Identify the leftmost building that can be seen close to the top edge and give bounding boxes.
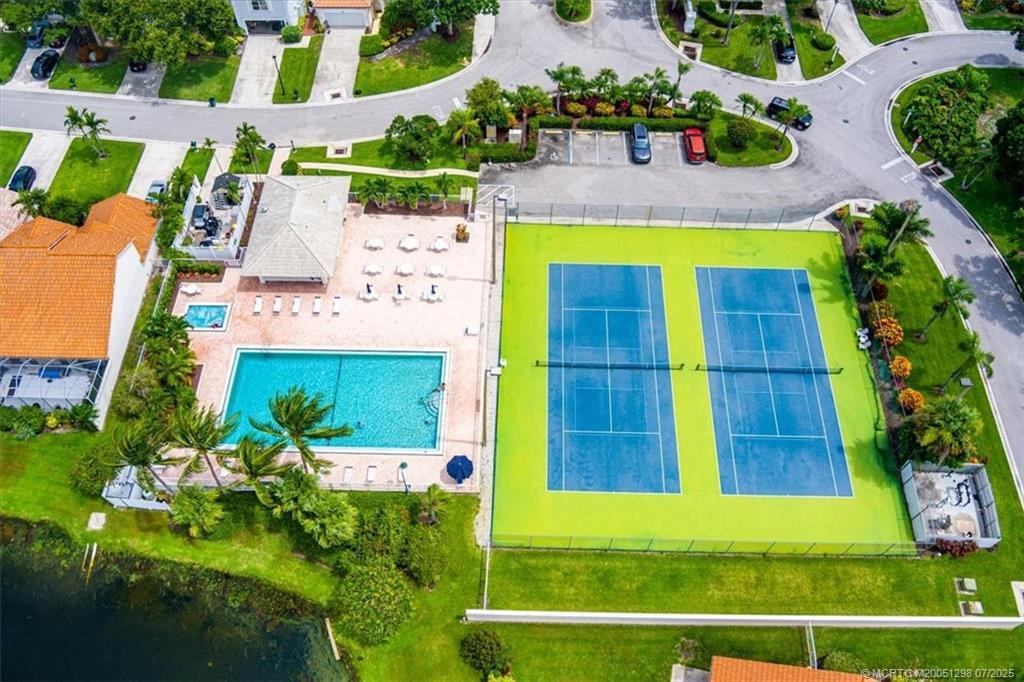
[233,0,316,35]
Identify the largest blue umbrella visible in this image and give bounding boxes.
[447,455,474,481]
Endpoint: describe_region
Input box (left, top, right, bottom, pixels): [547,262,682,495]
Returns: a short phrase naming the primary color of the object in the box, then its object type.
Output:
blue tennis court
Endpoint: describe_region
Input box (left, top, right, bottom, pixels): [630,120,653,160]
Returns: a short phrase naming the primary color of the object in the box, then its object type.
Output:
blue car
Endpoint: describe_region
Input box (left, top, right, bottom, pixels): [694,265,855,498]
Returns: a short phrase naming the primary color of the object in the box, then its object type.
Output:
blue tennis court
